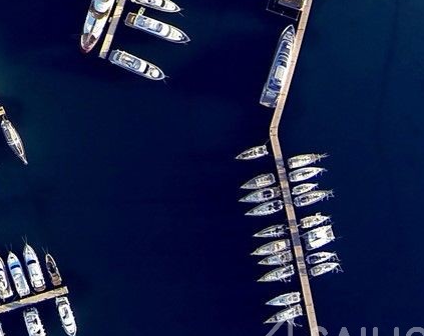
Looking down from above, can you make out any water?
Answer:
Yes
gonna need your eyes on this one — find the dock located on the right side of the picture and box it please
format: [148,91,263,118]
[268,0,318,336]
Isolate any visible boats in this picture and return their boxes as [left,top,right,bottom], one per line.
[260,292,301,309]
[290,183,322,195]
[107,48,166,79]
[262,17,299,110]
[237,146,269,160]
[286,154,329,168]
[292,190,339,207]
[2,117,29,168]
[245,199,284,216]
[254,264,295,284]
[309,262,345,276]
[305,251,341,265]
[252,223,287,238]
[237,172,276,191]
[299,215,331,229]
[251,239,292,256]
[302,225,341,250]
[25,244,47,292]
[0,258,14,303]
[9,252,30,301]
[263,306,305,328]
[130,0,186,13]
[288,168,331,181]
[119,14,199,45]
[259,250,294,266]
[84,0,118,50]
[47,255,60,286]
[57,296,78,336]
[24,307,47,336]
[237,187,281,202]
